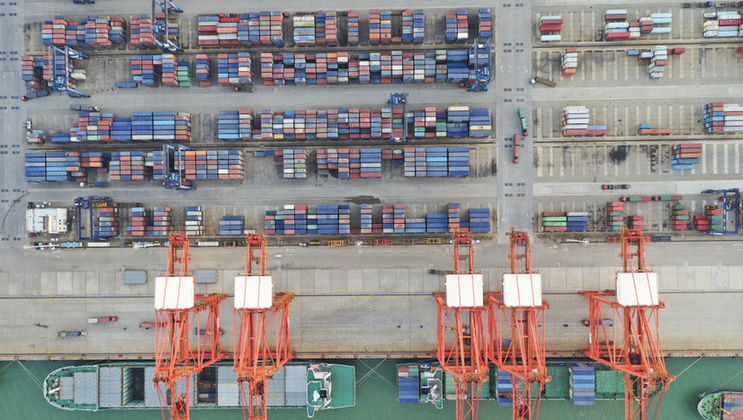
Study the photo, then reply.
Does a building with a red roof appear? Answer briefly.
No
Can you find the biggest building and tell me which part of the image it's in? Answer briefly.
left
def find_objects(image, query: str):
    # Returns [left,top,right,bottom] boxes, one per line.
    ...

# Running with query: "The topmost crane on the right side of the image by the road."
[465,38,492,91]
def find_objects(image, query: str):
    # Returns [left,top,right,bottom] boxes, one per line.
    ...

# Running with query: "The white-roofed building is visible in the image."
[25,208,72,235]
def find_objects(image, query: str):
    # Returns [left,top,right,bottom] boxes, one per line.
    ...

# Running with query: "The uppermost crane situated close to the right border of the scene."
[702,188,743,235]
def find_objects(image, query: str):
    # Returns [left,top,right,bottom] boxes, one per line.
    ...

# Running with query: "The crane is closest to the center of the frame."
[386,87,410,141]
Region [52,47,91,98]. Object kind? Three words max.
crane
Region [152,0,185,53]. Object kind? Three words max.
crane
